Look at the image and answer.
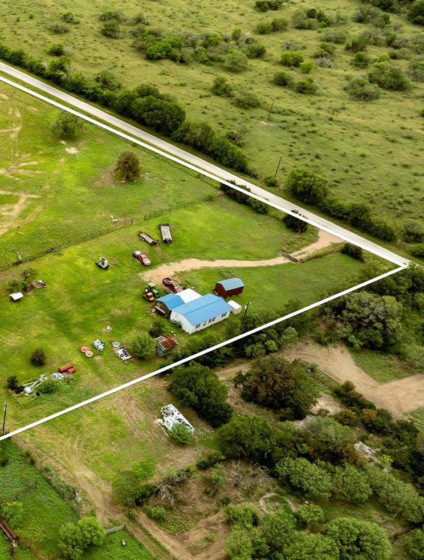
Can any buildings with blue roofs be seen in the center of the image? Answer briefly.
Yes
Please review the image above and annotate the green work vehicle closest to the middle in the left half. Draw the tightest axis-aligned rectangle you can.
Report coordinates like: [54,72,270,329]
[145,282,162,297]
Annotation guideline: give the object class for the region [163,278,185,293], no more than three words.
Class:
vehicle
